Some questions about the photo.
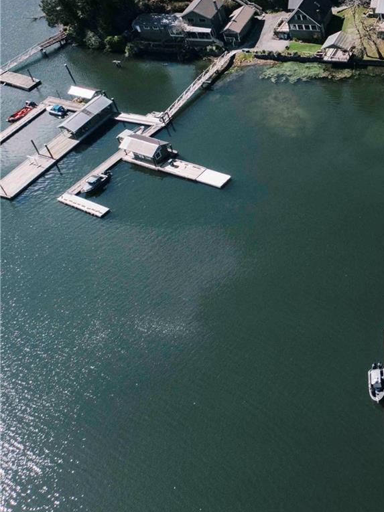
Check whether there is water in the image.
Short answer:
Yes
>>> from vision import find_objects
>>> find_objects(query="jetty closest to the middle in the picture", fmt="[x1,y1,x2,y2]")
[198,169,231,190]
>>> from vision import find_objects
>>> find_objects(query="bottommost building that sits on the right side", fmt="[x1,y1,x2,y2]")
[321,30,356,74]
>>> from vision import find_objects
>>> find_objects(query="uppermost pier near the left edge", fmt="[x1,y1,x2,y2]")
[0,25,75,75]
